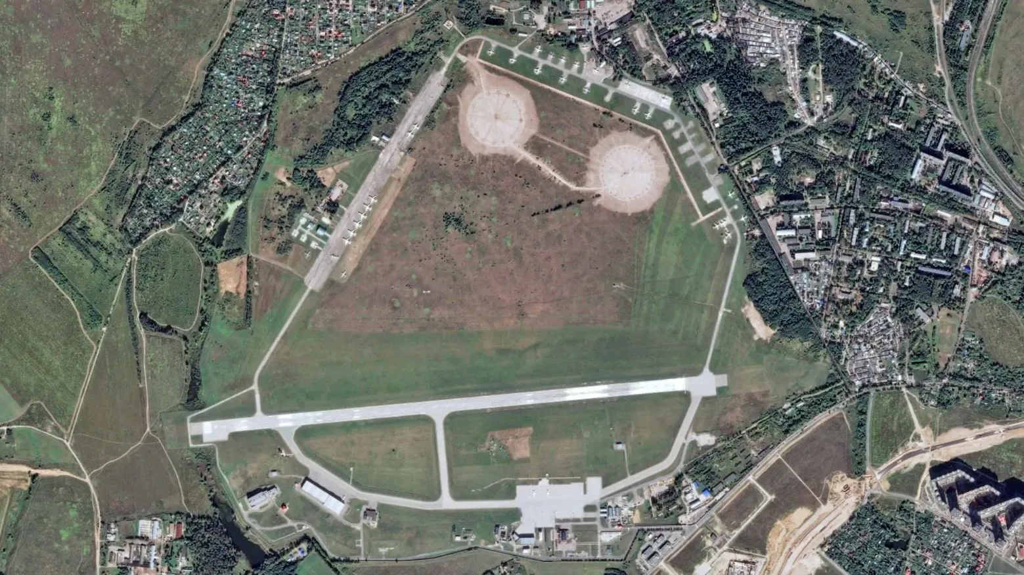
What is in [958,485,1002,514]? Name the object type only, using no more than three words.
building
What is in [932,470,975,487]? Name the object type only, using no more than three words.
building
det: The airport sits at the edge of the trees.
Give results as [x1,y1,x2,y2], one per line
[188,24,741,559]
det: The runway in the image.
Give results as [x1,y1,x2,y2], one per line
[203,377,686,441]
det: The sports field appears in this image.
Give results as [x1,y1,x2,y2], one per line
[938,309,960,371]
